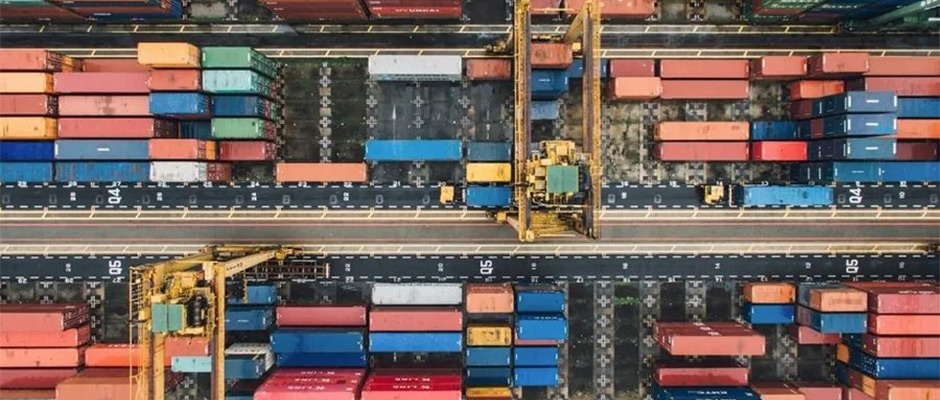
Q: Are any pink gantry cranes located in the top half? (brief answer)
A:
No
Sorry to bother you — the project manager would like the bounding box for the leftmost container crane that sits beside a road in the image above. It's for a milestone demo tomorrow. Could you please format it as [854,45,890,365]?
[126,243,304,400]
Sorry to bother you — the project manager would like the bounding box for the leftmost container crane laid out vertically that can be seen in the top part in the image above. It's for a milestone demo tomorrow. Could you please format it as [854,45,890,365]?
[490,0,602,245]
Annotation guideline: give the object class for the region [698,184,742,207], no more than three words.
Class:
truck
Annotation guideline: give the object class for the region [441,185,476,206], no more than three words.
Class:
truck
